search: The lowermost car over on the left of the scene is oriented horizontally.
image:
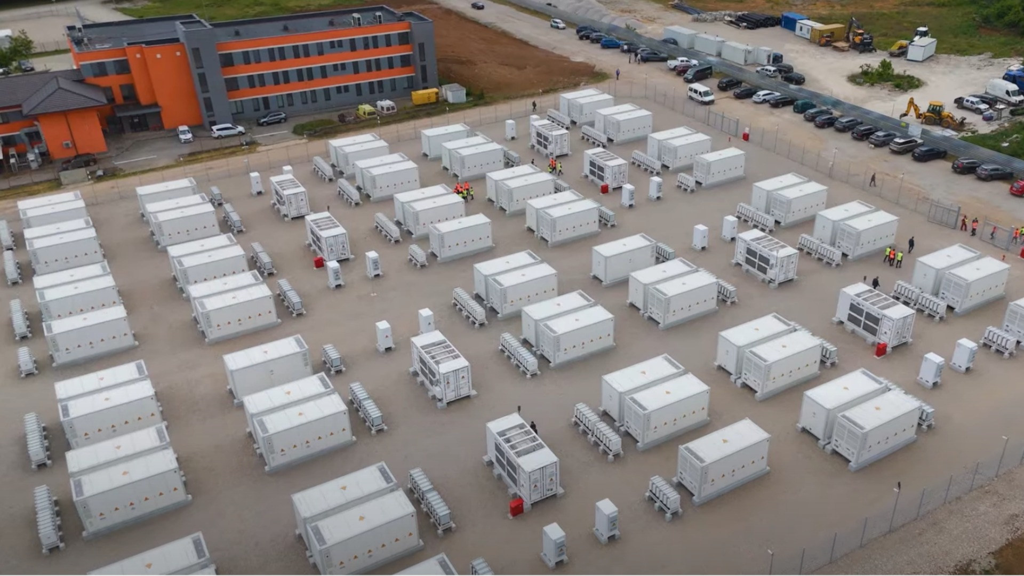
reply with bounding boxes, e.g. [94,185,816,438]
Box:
[58,152,100,170]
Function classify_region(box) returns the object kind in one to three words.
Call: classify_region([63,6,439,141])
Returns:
building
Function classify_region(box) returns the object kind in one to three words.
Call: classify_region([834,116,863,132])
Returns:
car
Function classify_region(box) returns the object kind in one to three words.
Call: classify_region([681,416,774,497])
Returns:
shipping container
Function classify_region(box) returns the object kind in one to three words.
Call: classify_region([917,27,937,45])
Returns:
work vehicle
